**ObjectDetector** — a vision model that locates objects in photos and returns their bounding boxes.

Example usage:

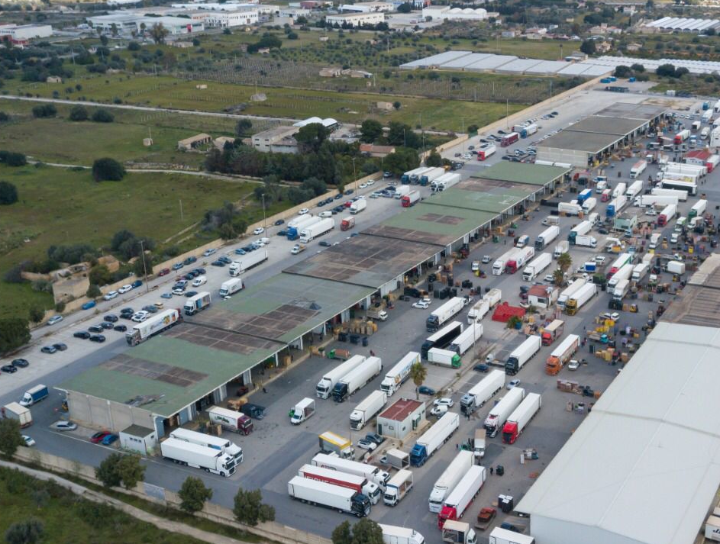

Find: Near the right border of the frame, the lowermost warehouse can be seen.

[511,322,720,544]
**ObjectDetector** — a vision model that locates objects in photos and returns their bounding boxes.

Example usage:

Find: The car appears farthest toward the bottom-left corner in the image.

[20,433,37,447]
